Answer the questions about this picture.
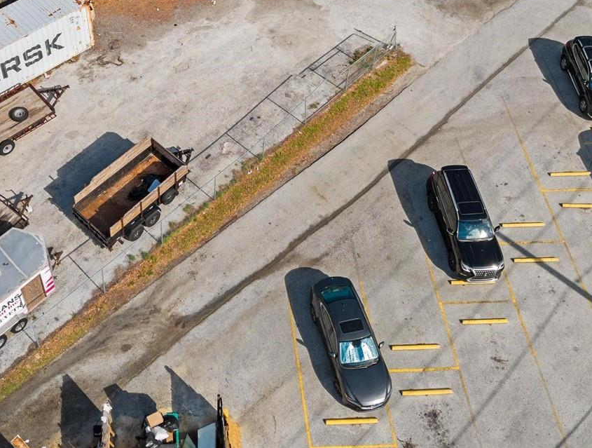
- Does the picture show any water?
No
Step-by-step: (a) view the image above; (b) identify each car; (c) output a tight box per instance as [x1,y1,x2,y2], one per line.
[309,274,395,415]
[427,164,507,286]
[558,33,592,120]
